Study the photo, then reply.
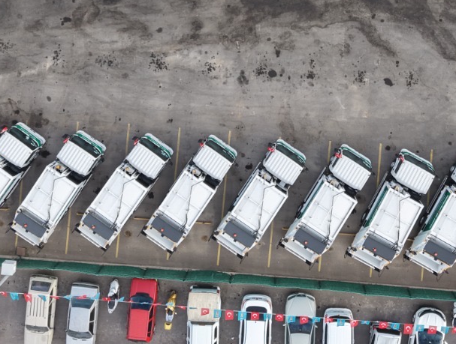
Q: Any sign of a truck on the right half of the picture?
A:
Yes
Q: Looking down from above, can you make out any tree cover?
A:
No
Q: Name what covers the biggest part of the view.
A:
paved ground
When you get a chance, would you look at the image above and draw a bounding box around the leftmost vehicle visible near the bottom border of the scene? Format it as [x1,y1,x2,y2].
[21,275,61,344]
